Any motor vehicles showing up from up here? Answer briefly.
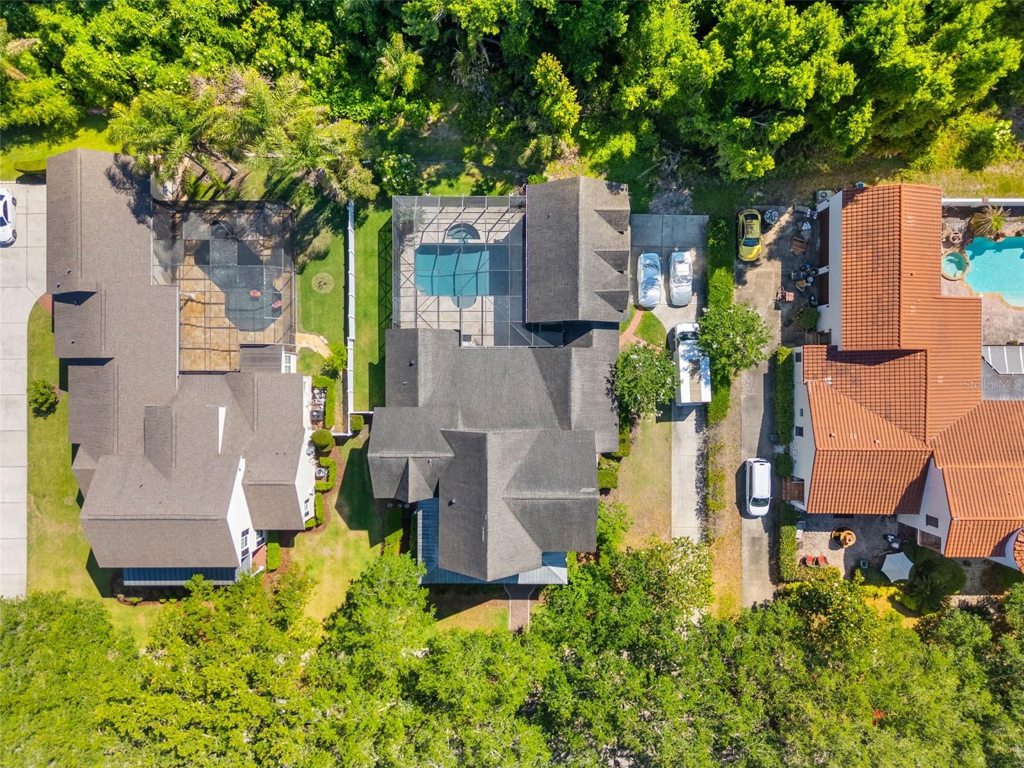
Yes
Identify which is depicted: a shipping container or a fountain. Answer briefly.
fountain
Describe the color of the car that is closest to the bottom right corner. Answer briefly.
white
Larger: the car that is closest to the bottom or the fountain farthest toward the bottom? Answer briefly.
the car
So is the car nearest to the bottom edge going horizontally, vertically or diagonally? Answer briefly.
vertically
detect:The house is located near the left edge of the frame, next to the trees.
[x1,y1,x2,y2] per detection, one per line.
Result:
[47,149,316,584]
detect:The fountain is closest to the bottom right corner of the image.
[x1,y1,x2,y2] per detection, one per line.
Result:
[827,522,855,546]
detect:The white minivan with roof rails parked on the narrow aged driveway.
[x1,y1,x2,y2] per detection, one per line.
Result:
[738,458,767,513]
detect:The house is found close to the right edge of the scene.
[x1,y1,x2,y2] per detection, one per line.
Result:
[780,182,1024,572]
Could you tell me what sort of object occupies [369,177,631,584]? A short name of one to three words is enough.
house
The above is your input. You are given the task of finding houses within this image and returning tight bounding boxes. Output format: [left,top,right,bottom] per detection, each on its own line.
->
[47,149,316,584]
[780,182,1024,572]
[369,177,631,584]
